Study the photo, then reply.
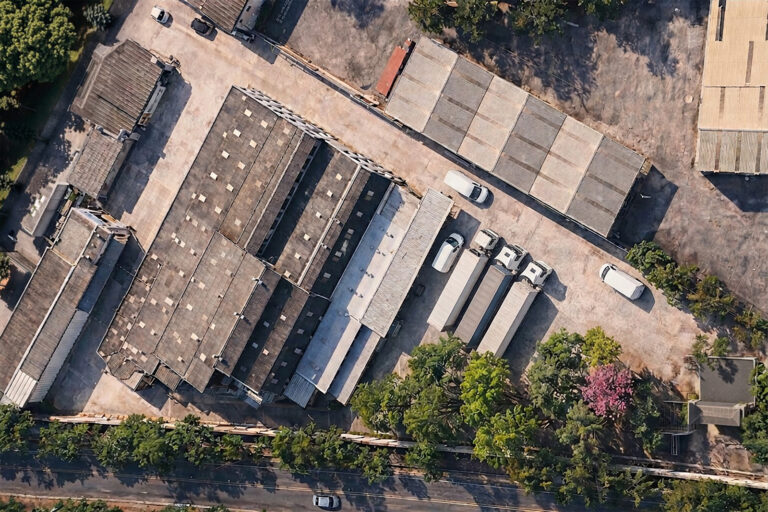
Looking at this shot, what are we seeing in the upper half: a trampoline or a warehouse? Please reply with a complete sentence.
What appears in the upper half is a warehouse.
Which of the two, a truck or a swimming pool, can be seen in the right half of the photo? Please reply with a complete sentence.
Looking in the right half of the photo, you will find a truck.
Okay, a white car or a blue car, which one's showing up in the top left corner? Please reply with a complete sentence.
Visible in the top left corner is a white car.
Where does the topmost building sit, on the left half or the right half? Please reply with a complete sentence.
You can find the topmost building on the left side of the picture.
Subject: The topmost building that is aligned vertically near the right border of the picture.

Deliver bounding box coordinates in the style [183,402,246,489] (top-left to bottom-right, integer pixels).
[697,0,768,174]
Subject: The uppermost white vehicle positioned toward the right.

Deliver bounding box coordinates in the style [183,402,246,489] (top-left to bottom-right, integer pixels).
[442,172,488,201]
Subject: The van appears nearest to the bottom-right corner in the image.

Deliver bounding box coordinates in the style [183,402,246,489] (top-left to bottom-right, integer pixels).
[601,268,644,298]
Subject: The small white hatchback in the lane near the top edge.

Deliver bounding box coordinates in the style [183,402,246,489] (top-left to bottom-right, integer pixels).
[147,5,171,24]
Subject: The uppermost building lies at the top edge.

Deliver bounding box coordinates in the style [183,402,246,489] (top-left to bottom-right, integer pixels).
[182,0,267,37]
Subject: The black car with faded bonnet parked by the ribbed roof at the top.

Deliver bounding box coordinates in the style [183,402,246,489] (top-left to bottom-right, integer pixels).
[188,16,215,35]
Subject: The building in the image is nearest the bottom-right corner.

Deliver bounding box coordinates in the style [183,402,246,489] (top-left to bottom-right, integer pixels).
[688,357,760,431]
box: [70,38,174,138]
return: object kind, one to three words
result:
house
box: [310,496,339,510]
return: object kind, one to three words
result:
car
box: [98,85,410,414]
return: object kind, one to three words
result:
building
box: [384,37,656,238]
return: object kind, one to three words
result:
warehouse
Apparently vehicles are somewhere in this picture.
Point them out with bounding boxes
[478,261,548,362]
[442,172,488,201]
[431,235,462,271]
[428,228,499,329]
[601,268,644,298]
[188,16,215,35]
[147,5,171,24]
[454,244,524,345]
[310,496,339,510]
